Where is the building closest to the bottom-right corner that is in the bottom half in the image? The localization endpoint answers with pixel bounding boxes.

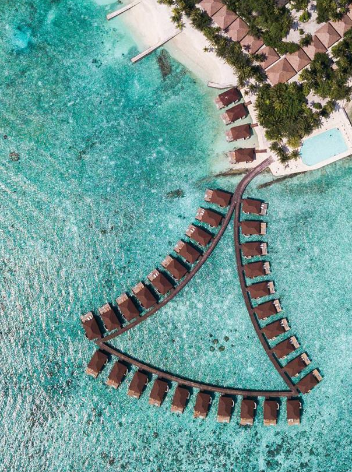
[286,398,303,425]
